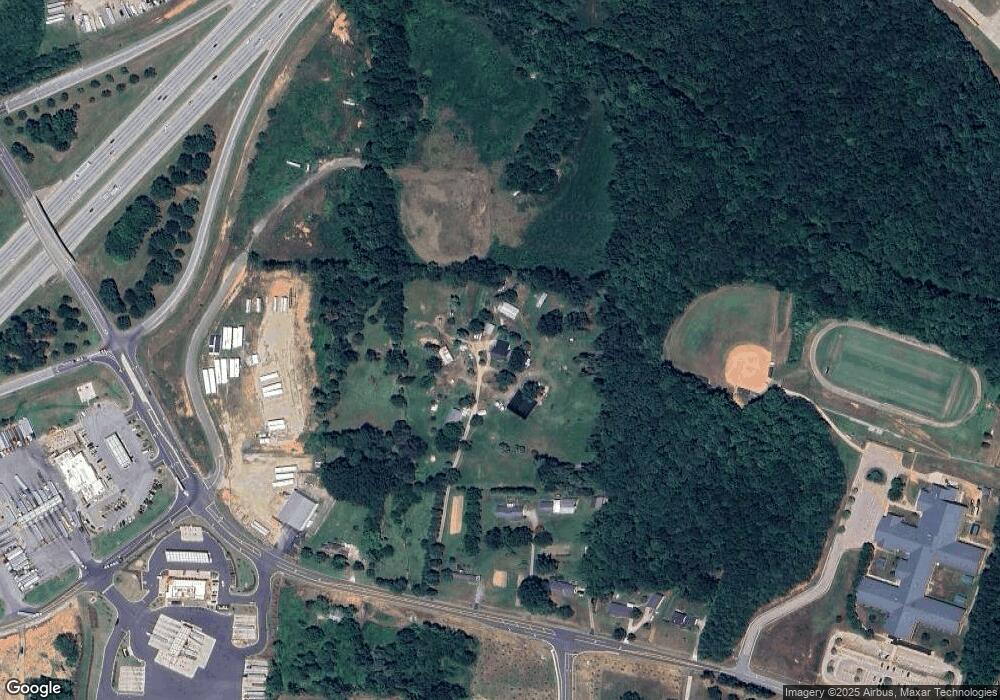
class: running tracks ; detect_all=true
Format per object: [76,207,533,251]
[809,322,980,426]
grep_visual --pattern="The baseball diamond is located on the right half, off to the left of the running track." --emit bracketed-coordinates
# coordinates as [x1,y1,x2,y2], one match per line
[664,283,783,403]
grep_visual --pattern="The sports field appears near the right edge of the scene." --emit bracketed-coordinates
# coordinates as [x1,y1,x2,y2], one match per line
[813,326,976,422]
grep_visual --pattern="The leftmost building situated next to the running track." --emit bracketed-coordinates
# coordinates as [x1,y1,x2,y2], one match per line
[854,479,985,654]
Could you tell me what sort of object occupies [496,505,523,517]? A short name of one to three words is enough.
house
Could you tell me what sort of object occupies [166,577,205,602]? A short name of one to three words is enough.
building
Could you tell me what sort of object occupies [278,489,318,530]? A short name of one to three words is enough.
building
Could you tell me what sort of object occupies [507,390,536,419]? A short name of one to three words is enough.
house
